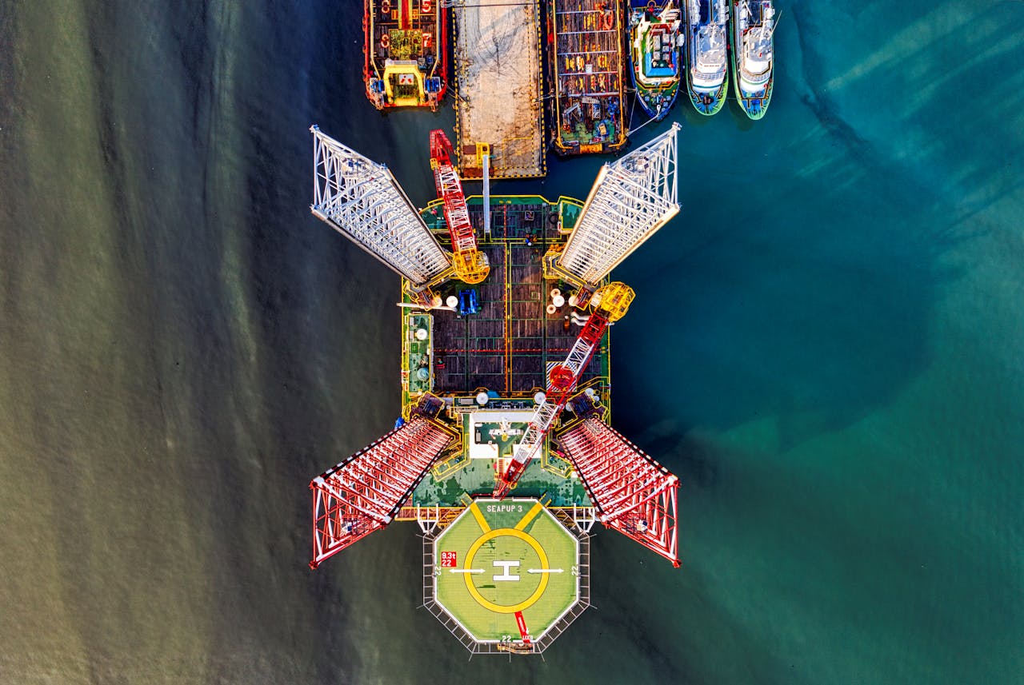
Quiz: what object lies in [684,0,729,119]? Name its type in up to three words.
boat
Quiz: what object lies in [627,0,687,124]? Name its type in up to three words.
boat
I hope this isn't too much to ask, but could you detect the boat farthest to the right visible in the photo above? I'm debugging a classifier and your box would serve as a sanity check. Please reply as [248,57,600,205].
[728,0,775,123]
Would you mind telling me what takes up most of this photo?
water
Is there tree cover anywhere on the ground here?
No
